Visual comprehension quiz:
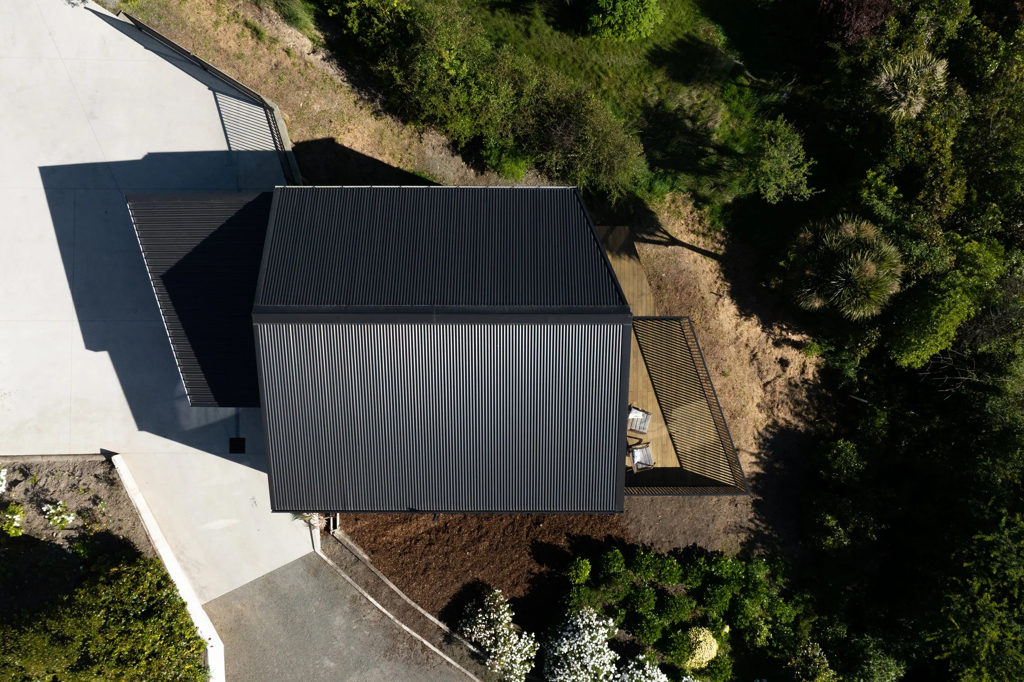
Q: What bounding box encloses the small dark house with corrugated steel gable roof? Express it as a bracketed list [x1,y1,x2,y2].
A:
[252,185,633,514]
